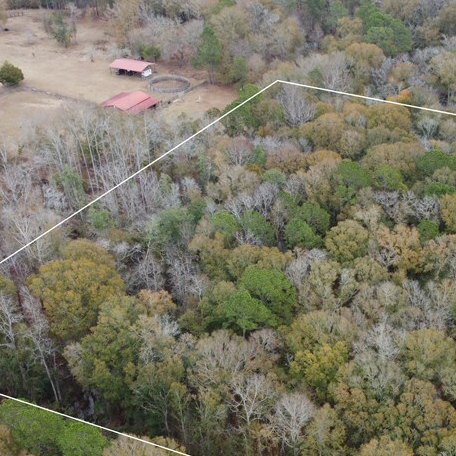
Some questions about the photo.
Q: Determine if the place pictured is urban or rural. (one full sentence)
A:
The area shown here is rural.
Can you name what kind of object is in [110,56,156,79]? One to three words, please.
shed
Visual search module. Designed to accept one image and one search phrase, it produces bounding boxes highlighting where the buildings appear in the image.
[97,90,162,125]
[110,56,156,79]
